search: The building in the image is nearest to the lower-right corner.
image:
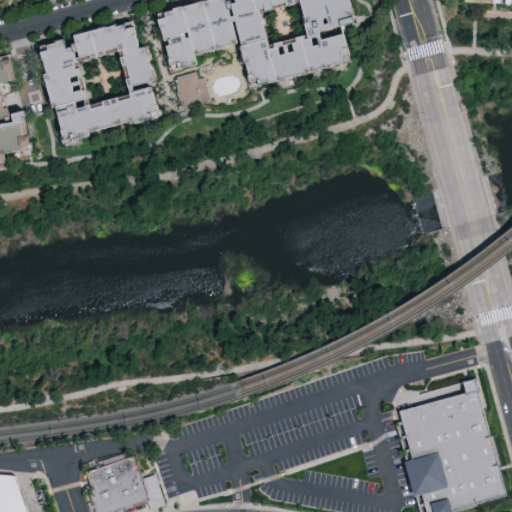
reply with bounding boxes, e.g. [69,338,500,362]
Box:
[384,377,506,512]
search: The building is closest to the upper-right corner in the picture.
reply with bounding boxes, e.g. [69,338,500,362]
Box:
[231,0,354,86]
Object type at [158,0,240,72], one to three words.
building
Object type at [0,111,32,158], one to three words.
house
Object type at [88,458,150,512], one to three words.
building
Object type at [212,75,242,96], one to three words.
swimming pool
